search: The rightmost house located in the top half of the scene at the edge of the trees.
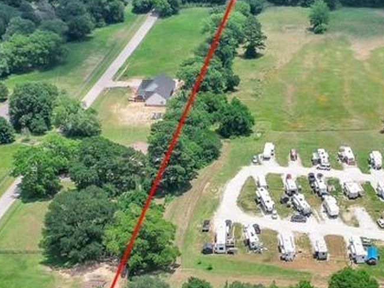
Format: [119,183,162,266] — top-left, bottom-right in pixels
[133,78,180,107]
